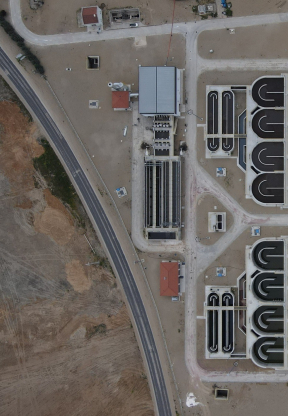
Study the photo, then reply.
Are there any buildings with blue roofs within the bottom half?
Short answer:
No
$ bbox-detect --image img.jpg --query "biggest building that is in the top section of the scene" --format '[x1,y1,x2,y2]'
[139,66,180,115]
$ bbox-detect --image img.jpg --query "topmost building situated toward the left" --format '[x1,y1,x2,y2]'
[81,5,103,31]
